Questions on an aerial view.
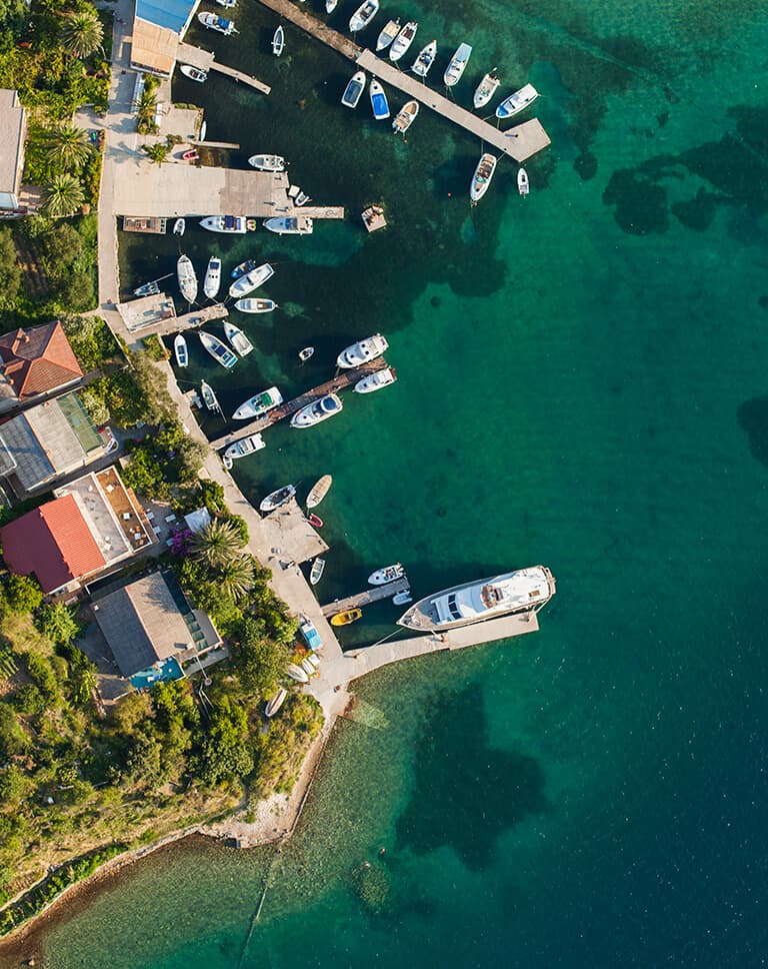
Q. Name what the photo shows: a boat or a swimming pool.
boat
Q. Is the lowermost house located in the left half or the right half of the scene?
left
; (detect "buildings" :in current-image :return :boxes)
[90,569,225,689]
[130,0,206,83]
[0,320,86,413]
[0,88,29,210]
[2,465,161,598]
[0,392,121,490]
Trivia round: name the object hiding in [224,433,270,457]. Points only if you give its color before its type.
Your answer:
white boat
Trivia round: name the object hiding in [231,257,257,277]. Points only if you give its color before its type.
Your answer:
blue boat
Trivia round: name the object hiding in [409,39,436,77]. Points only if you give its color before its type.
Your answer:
white boat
